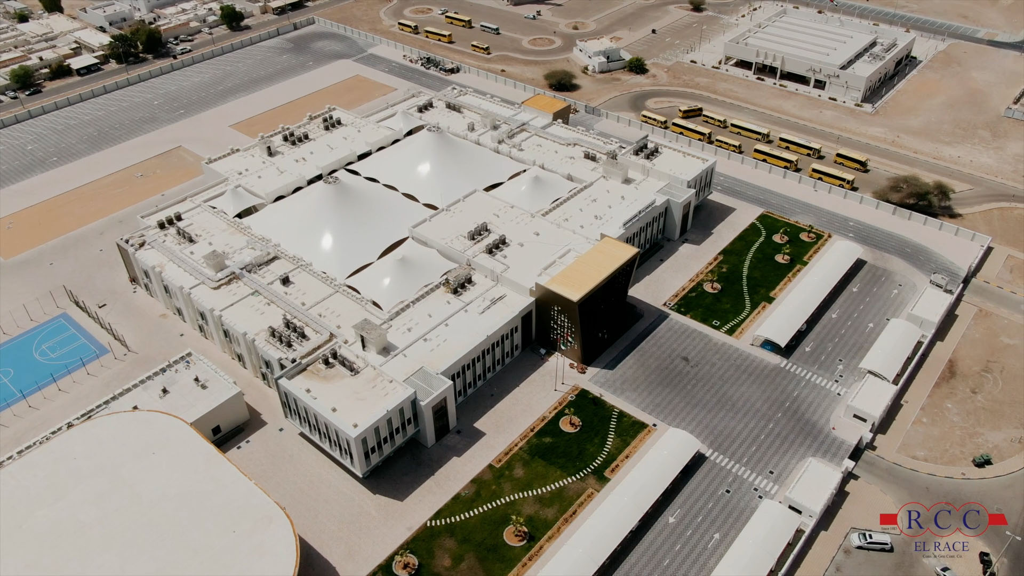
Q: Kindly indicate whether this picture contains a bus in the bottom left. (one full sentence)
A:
No, the scene shows no bus in the bottom left.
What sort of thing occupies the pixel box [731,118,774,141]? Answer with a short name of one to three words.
bus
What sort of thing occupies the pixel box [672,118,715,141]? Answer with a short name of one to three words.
bus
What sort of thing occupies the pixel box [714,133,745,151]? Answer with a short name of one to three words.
vehicle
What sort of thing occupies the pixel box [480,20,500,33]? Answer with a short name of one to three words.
vehicle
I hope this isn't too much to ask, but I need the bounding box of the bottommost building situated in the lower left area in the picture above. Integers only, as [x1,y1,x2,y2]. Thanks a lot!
[0,401,308,576]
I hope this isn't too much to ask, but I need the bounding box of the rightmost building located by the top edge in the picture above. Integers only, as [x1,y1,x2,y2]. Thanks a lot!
[722,6,919,102]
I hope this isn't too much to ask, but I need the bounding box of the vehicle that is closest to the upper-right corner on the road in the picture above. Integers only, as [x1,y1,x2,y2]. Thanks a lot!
[833,148,873,171]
